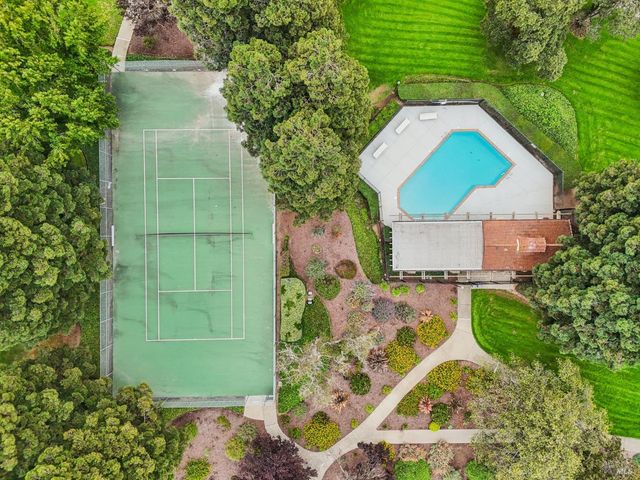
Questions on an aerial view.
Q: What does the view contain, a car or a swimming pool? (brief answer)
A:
swimming pool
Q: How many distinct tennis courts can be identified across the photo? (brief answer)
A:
1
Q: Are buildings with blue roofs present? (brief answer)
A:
No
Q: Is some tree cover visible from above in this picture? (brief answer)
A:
Yes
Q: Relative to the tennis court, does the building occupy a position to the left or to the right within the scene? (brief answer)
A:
right of it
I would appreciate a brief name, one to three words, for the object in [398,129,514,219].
swimming pool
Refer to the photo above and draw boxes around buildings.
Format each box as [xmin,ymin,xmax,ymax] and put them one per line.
[388,211,577,281]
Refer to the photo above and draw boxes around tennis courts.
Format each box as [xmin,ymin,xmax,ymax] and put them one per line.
[111,71,274,397]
